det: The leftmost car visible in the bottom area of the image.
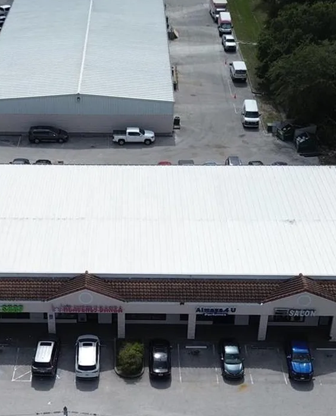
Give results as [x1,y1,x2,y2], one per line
[31,338,60,383]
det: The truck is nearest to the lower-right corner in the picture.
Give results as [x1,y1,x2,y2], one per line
[284,338,316,385]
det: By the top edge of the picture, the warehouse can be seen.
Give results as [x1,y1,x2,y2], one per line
[0,0,177,136]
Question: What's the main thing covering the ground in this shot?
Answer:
buildings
